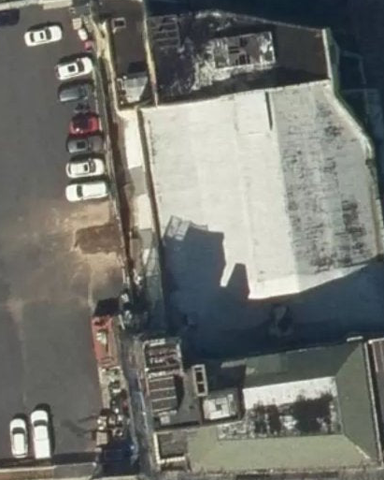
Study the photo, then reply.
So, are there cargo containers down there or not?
Yes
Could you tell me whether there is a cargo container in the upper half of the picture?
No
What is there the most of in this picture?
buildings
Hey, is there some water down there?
No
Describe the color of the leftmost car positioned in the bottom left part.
white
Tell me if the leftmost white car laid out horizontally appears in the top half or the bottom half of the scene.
top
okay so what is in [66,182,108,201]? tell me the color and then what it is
white car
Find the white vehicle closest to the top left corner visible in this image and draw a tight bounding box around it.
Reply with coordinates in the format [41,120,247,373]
[23,25,63,46]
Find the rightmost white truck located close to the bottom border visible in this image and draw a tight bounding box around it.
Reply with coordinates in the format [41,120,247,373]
[28,407,51,459]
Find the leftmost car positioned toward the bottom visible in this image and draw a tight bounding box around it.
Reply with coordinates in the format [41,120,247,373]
[9,416,30,457]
